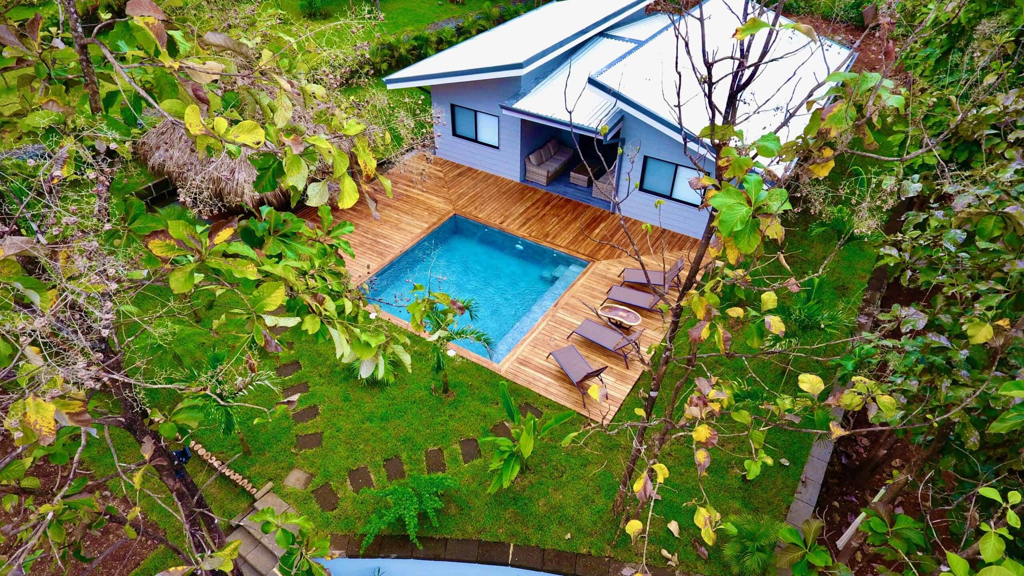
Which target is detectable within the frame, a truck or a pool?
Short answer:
pool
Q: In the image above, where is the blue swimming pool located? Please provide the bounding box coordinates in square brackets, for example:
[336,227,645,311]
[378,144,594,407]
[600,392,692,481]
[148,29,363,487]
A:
[353,215,589,363]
